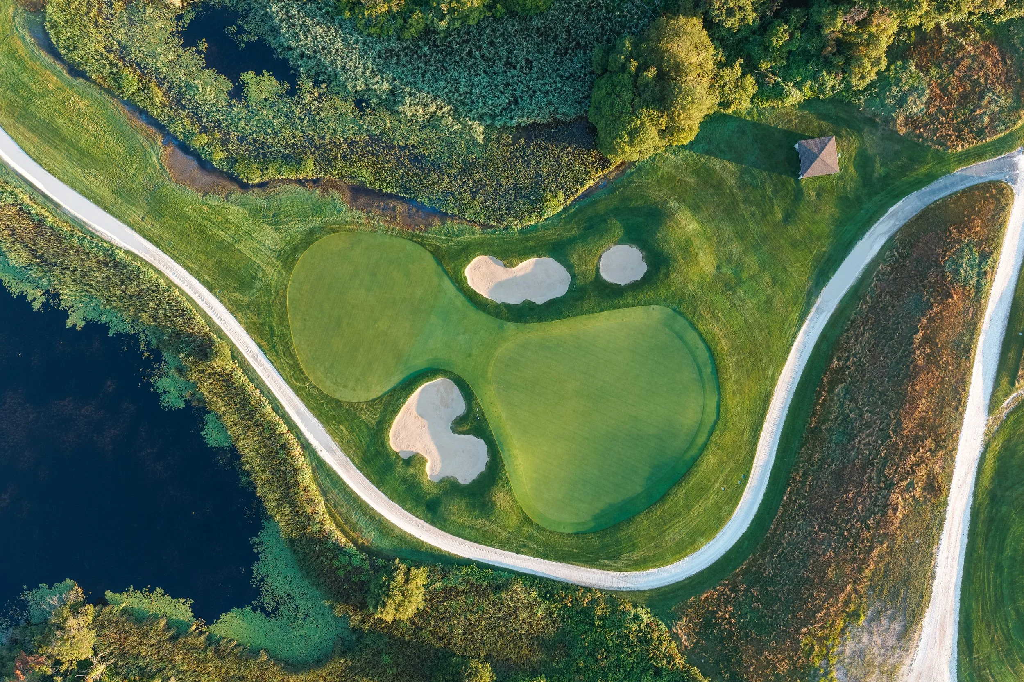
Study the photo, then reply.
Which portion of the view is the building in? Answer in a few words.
top right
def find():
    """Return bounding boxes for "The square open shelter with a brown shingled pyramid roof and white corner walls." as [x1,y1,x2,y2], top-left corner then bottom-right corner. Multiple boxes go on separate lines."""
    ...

[793,135,840,179]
